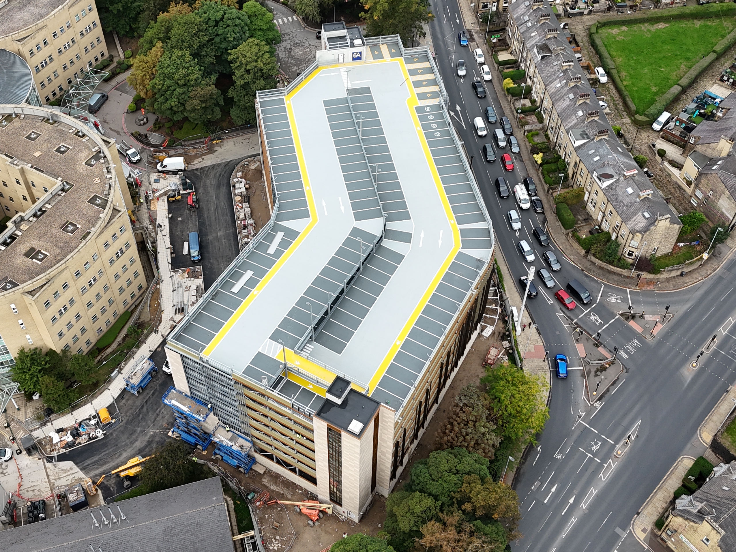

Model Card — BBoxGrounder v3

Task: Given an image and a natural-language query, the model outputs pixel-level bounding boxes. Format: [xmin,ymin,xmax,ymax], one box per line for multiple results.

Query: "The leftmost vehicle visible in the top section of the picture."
[86,94,108,112]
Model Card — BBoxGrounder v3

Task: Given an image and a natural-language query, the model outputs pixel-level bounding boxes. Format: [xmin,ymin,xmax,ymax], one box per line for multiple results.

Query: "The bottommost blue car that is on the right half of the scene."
[554,354,569,380]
